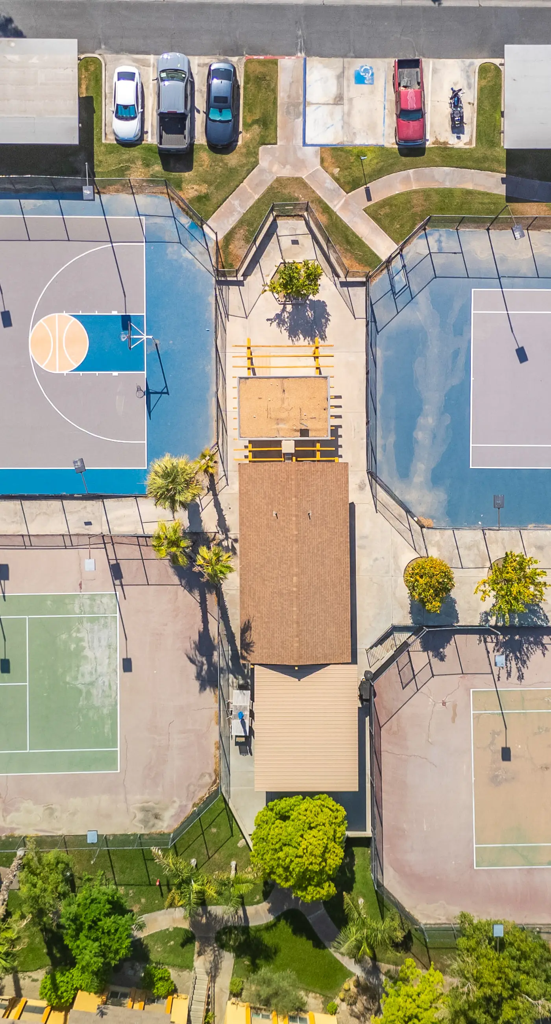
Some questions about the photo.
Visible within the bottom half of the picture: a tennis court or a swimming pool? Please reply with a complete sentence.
You can see a tennis court within the bottom half of the picture.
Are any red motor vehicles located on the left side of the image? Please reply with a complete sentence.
No, looking on the left side of the image, there is no red motor vehicle.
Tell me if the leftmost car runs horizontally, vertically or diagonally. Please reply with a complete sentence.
I'd say the leftmost car is aligned vertically in the picture.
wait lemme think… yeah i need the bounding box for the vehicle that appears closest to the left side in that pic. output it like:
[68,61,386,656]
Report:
[108,66,145,143]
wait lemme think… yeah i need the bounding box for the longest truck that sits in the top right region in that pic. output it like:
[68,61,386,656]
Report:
[392,59,429,146]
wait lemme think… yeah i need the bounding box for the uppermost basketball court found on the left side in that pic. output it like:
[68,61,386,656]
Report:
[0,194,216,493]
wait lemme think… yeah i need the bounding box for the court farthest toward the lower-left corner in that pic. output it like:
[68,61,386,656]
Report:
[0,535,221,833]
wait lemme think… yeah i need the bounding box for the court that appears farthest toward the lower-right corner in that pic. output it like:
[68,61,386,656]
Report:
[373,625,551,923]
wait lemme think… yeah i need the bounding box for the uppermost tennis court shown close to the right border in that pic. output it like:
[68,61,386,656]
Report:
[366,230,551,526]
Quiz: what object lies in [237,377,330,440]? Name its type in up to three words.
shed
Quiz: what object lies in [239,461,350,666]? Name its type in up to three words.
building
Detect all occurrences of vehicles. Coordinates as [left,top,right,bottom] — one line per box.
[202,63,241,148]
[450,86,466,124]
[392,59,429,146]
[108,66,145,143]
[153,53,194,156]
